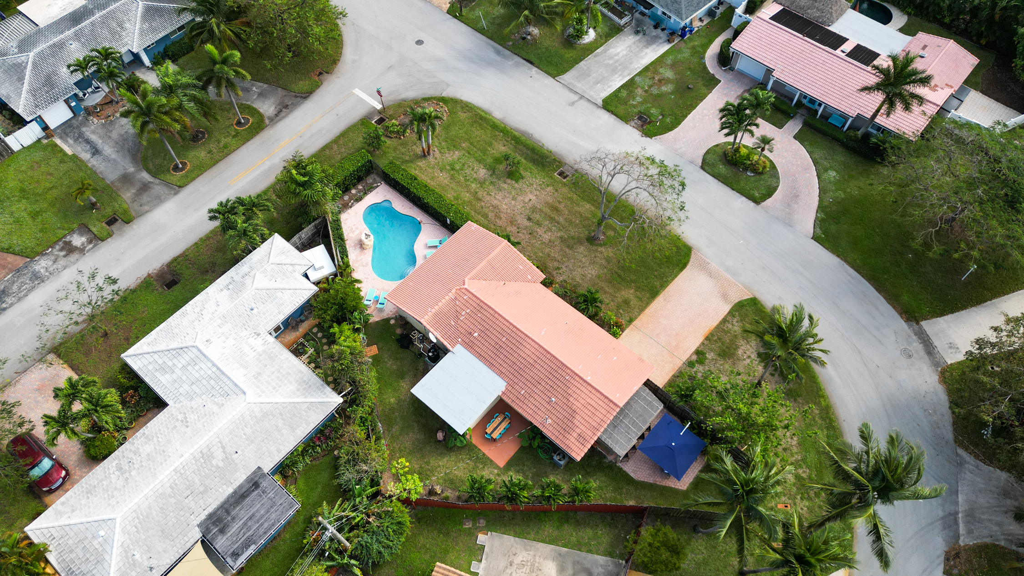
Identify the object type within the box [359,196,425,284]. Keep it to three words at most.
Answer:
swimming pool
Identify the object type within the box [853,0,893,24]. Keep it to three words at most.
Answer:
swimming pool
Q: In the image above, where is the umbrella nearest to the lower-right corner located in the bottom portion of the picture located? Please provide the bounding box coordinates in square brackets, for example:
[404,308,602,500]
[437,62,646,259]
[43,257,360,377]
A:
[638,413,705,481]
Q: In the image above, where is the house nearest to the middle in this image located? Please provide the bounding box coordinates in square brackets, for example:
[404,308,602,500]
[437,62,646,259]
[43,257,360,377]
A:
[386,222,658,463]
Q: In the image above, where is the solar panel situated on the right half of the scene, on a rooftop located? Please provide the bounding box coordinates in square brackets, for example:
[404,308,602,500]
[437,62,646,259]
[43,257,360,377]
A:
[763,8,904,74]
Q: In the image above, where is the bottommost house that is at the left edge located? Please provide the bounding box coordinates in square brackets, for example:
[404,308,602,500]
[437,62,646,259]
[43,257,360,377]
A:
[21,232,344,576]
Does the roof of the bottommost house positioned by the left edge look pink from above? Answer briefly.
No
